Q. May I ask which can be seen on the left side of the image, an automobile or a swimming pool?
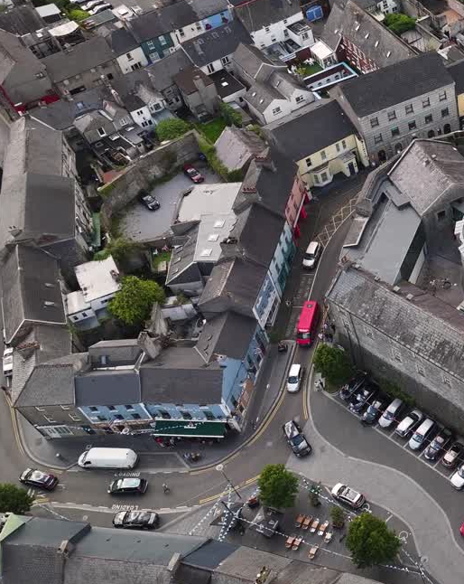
automobile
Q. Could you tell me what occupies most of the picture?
buildings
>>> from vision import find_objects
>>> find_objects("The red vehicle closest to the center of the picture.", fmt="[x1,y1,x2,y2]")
[294,298,323,351]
